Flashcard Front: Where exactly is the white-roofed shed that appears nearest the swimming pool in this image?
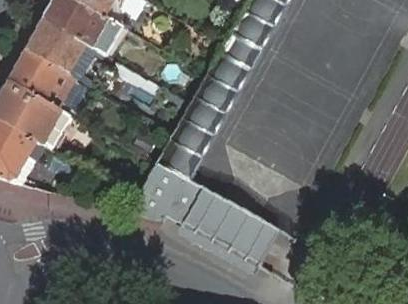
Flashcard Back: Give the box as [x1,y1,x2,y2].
[116,64,159,96]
